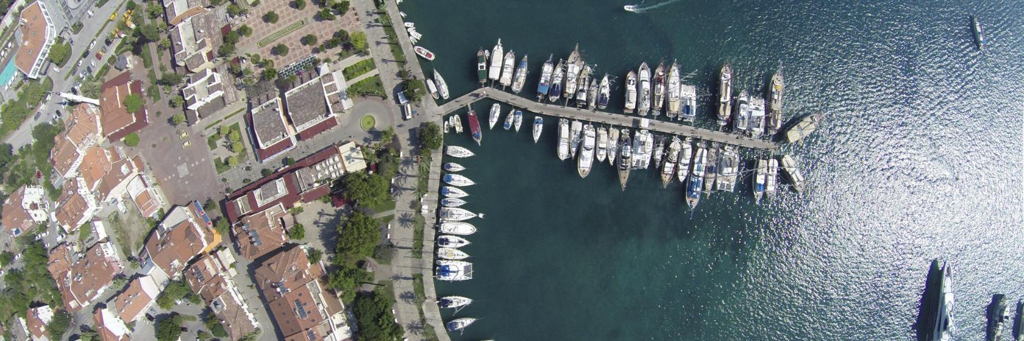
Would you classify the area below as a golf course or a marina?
marina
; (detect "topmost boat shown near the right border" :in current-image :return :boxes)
[970,14,988,53]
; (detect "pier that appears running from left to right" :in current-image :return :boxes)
[437,87,778,151]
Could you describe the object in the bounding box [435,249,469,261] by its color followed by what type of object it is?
white boat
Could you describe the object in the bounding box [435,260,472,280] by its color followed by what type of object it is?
white boat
